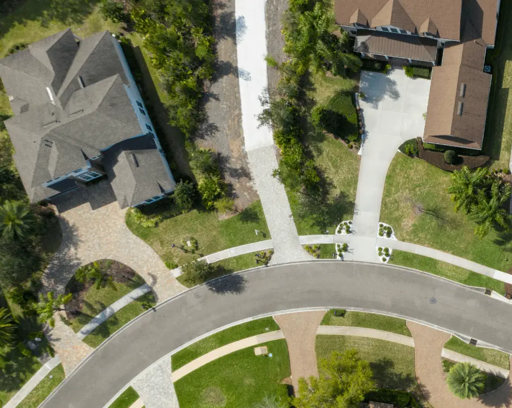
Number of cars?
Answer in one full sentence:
The count of cars is 0.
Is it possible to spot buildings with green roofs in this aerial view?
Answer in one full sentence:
No, no building with a green roof is visible in the scene.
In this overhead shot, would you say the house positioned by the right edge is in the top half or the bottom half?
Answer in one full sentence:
You can find the house positioned by the right edge in the top half.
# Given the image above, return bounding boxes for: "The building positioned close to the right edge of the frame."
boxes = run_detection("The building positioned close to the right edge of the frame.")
[335,0,500,152]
